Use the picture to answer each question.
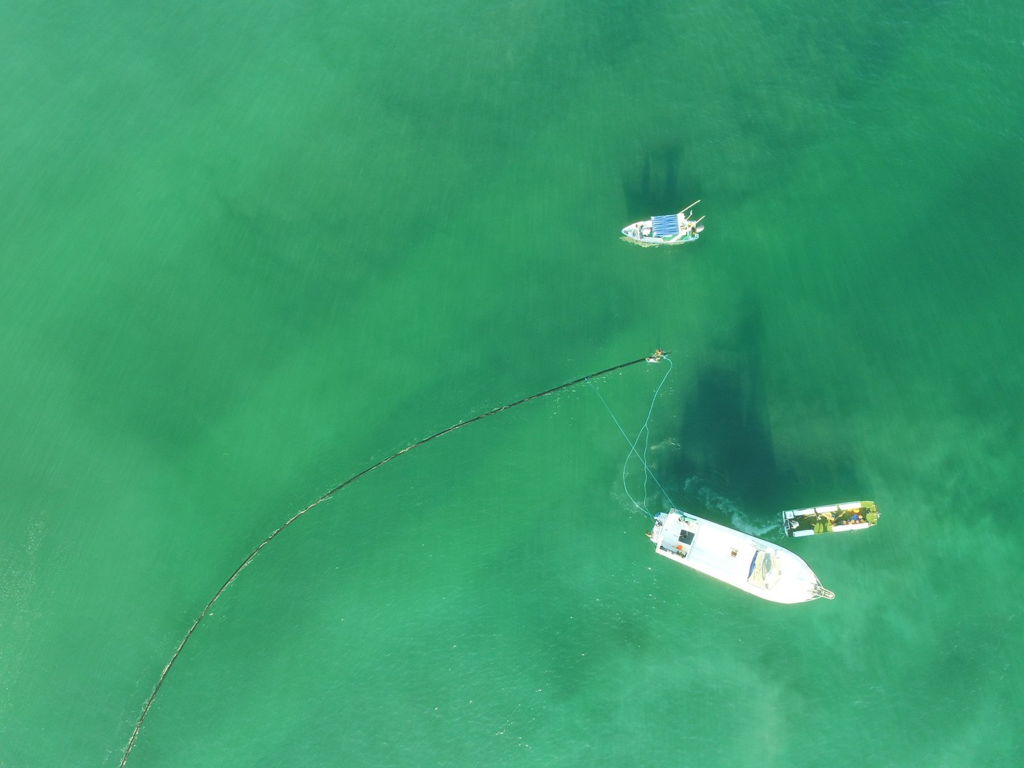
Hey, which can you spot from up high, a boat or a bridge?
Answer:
boat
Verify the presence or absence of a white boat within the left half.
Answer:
No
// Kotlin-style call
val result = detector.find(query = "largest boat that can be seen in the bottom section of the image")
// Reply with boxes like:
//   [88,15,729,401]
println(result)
[650,509,835,603]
